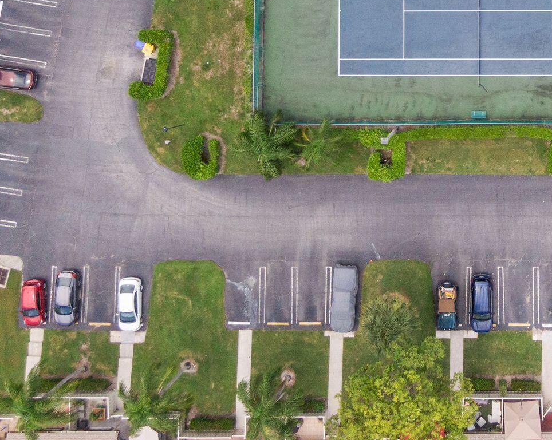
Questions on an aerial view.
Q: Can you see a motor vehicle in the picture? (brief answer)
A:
Yes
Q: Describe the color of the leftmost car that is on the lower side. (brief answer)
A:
red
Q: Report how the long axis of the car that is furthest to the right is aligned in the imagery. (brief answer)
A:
up and down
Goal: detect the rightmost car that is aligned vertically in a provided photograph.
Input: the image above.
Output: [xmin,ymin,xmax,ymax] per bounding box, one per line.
[467,274,496,331]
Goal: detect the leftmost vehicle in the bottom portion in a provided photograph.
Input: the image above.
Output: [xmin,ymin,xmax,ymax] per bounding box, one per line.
[19,281,50,327]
